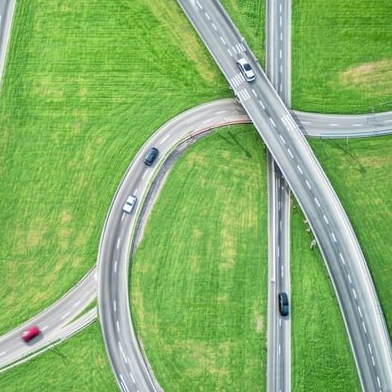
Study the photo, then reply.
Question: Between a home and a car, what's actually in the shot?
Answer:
car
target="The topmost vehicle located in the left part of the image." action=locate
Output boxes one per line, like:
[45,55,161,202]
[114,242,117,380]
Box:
[142,145,160,167]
